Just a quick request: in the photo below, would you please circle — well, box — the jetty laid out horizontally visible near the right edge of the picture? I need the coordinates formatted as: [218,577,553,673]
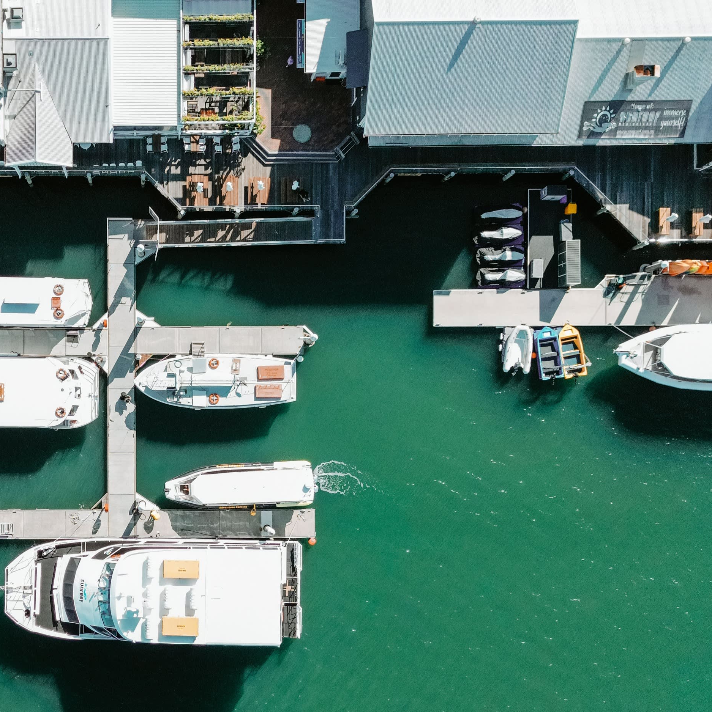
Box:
[432,275,712,327]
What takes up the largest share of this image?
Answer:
water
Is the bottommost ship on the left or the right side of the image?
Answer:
left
